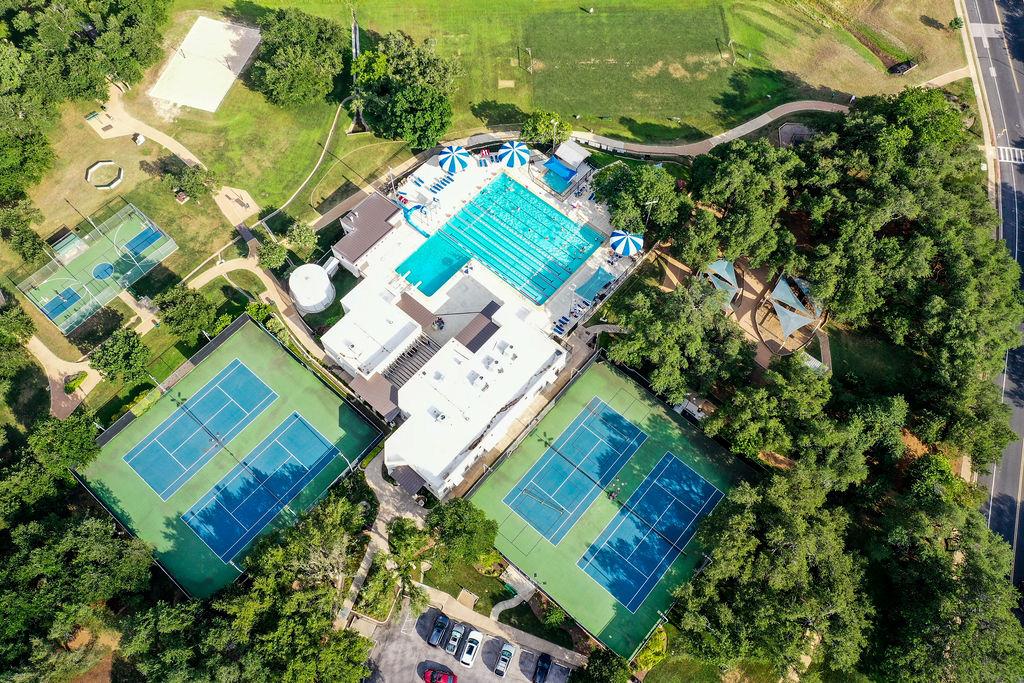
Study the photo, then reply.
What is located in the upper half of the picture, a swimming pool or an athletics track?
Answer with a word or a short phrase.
swimming pool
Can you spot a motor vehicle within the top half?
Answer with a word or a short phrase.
No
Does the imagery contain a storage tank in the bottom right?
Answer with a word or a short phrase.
No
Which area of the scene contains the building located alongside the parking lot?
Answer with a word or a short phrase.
center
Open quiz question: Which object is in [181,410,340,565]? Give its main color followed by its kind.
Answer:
blue tennis court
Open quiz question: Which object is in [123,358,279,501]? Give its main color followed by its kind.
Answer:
blue tennis court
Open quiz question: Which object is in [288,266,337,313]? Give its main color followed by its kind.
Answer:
white storage tank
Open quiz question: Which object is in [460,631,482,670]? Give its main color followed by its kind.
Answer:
white car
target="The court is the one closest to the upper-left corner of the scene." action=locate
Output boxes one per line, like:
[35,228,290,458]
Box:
[148,15,261,113]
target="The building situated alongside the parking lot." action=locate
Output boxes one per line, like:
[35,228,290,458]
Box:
[320,277,566,504]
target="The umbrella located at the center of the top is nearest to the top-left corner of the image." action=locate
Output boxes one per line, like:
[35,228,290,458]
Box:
[438,146,469,170]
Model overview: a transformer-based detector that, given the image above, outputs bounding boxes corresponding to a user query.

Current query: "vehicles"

[425,670,459,683]
[426,612,451,651]
[532,653,551,683]
[445,625,465,658]
[460,631,482,670]
[493,644,516,680]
